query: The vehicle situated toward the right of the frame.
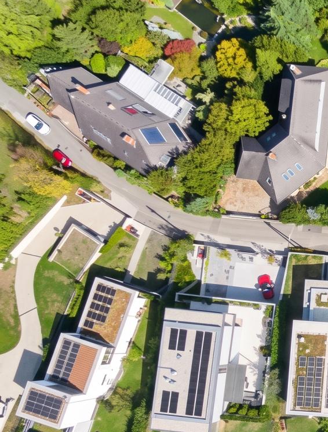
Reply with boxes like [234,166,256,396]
[257,272,275,300]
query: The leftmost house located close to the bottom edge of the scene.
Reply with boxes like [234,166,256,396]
[15,277,156,432]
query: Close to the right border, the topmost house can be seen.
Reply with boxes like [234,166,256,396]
[236,63,328,204]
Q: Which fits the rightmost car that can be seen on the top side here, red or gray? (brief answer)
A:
red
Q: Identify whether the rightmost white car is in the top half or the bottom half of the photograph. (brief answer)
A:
top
